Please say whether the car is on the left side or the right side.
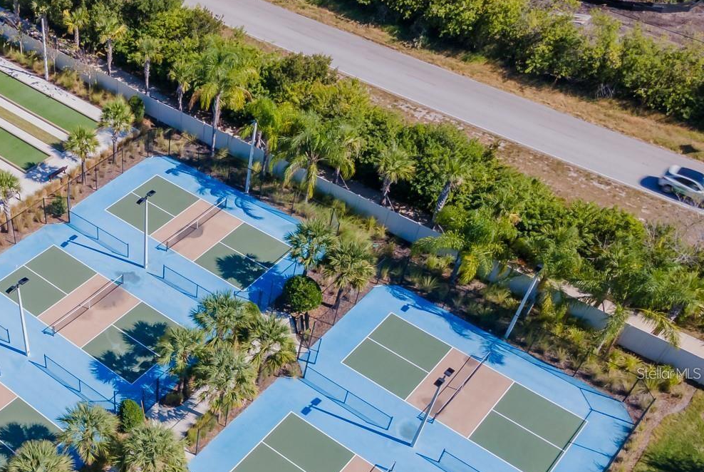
right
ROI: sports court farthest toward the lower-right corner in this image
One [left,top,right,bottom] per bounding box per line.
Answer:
[343,314,585,472]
